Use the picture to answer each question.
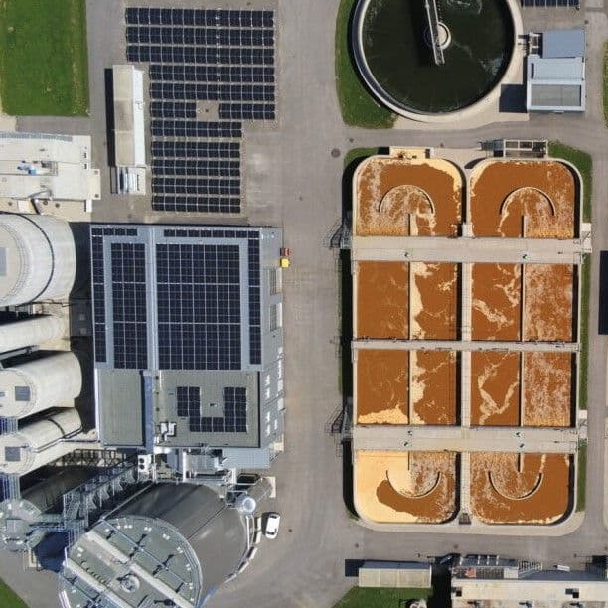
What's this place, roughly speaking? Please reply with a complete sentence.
It's an industrial area.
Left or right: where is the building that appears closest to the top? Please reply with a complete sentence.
The building that appears closest to the top appears in the right half of the scene.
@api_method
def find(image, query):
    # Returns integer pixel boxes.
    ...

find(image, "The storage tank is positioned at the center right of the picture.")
[351,140,591,525]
